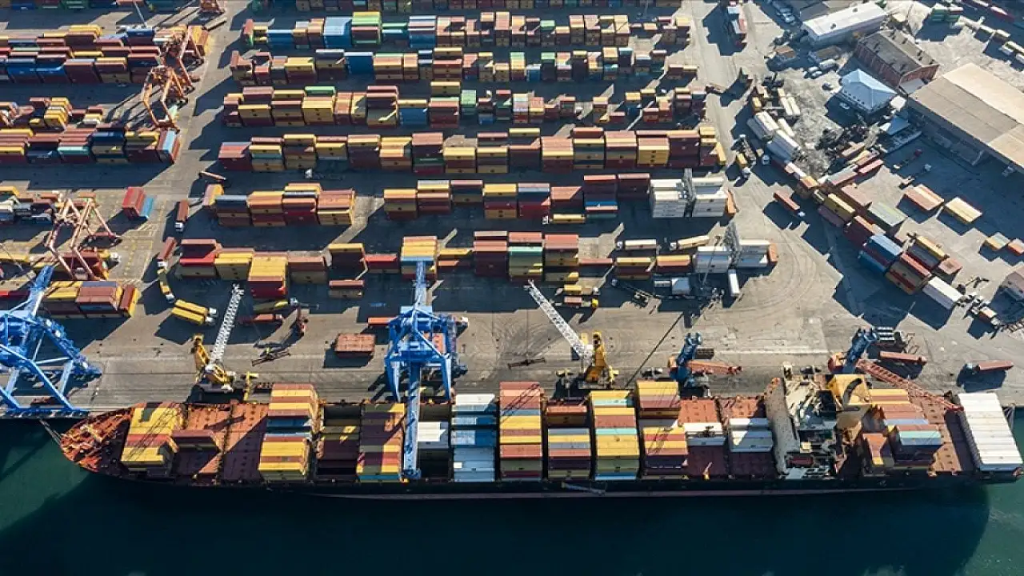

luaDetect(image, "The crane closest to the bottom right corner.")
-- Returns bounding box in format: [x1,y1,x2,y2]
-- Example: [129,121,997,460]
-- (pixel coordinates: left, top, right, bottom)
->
[822,329,969,442]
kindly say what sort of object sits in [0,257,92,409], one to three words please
container crane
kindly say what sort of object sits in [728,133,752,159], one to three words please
work vehicle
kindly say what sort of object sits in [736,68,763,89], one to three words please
work vehicle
